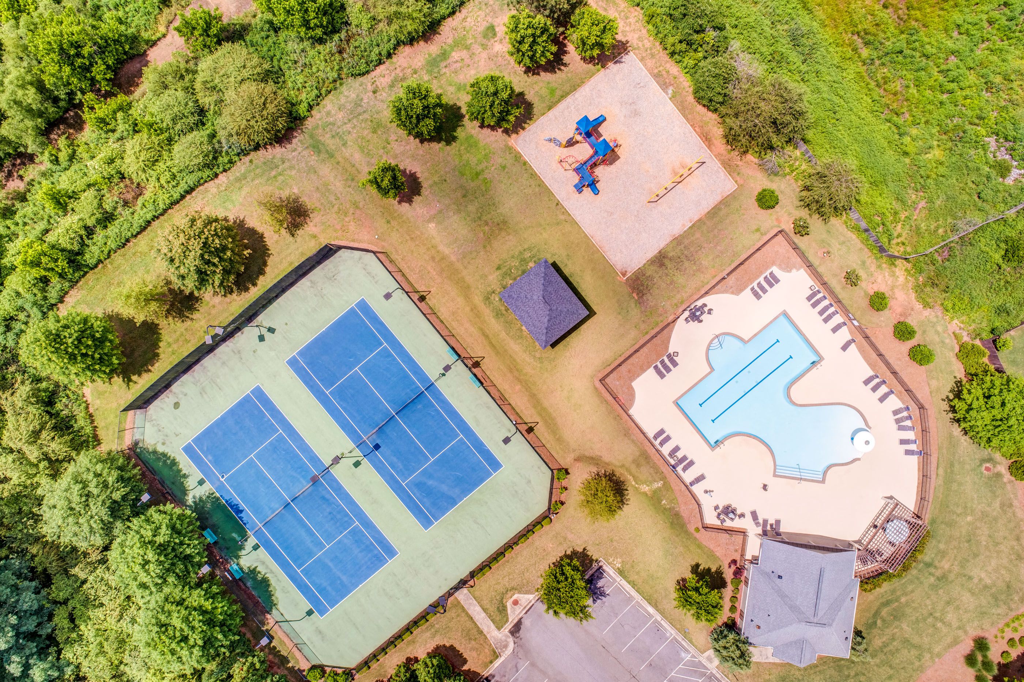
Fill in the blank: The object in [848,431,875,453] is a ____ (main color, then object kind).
white fountain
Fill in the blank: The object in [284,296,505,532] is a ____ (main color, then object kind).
blue tennis court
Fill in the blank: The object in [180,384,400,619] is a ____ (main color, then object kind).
blue tennis court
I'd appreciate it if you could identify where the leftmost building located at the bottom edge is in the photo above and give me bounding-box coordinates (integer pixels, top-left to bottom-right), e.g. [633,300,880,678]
[738,532,861,665]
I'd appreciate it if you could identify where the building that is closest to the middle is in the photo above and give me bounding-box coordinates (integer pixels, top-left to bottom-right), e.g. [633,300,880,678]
[499,258,589,350]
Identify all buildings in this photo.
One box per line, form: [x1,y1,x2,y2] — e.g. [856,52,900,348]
[499,258,589,350]
[738,532,861,665]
